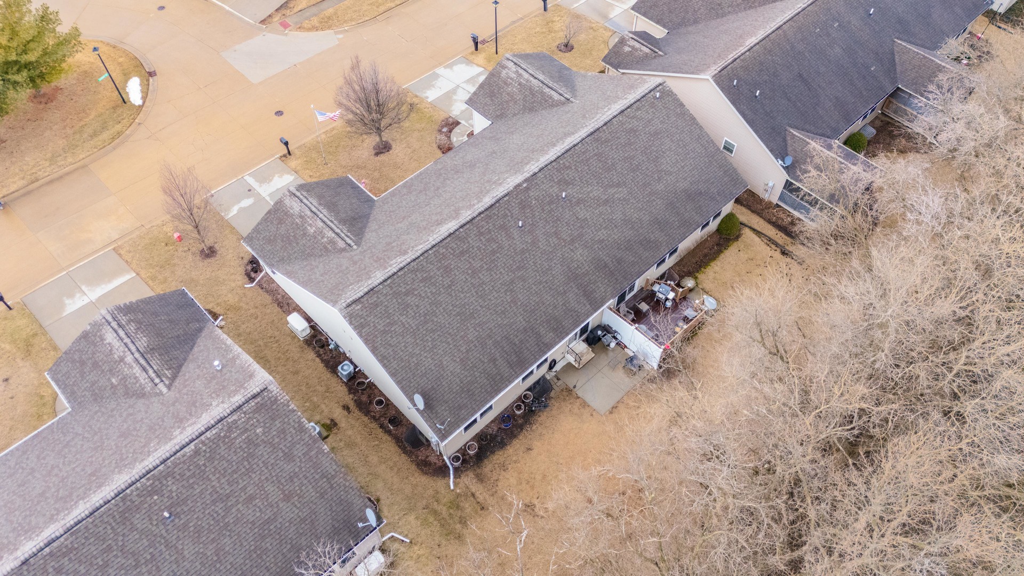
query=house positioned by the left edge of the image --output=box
[0,287,409,576]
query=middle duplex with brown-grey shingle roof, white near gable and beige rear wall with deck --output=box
[242,53,751,489]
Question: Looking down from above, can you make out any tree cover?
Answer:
Yes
